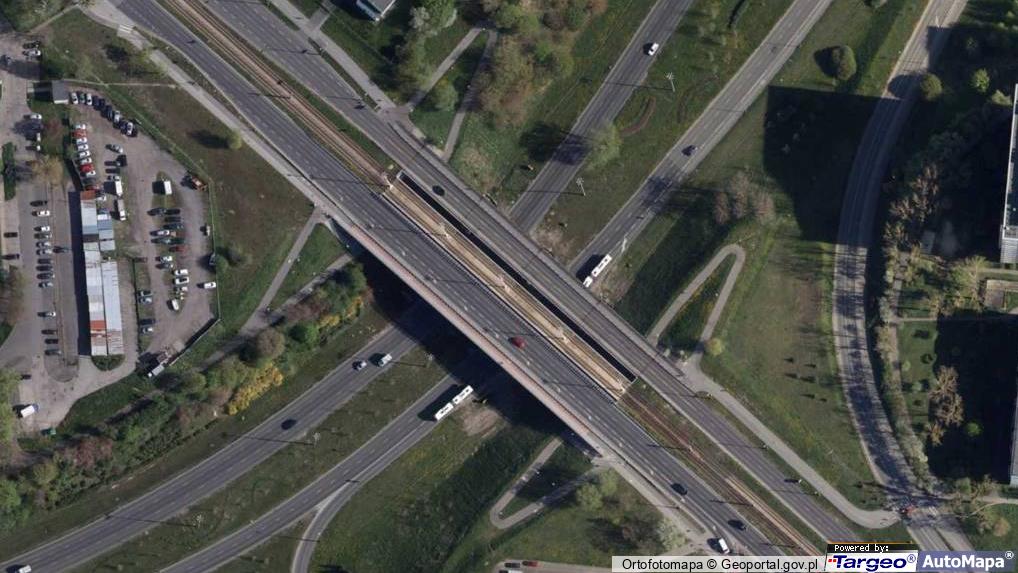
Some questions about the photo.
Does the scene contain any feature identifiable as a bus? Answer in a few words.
Yes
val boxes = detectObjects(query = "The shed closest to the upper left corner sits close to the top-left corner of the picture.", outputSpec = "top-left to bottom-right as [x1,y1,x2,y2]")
[52,81,69,103]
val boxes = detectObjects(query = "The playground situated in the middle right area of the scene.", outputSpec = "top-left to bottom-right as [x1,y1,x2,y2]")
[986,281,1018,307]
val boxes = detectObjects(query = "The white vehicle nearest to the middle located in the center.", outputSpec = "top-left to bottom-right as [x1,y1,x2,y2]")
[580,255,613,290]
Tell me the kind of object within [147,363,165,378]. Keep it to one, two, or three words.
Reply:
vehicle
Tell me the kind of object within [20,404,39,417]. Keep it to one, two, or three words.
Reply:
vehicle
